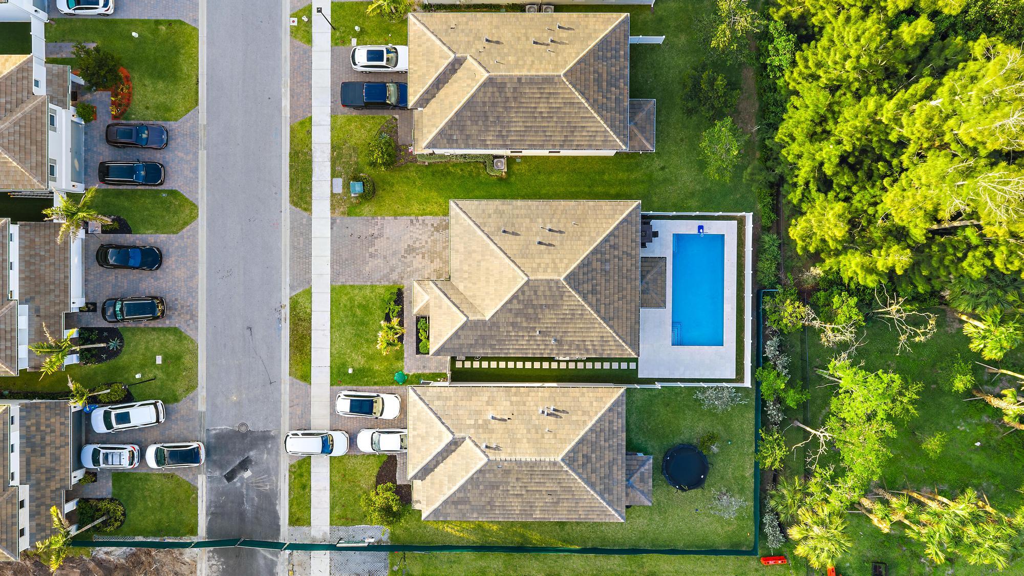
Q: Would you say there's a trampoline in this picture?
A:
Yes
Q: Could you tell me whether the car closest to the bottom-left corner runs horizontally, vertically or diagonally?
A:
horizontally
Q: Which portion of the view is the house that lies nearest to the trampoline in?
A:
bottom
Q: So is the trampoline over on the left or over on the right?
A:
right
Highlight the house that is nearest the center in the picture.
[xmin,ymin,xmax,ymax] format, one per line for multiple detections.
[411,198,668,359]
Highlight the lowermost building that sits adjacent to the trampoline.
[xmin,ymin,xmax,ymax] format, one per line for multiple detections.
[406,384,654,523]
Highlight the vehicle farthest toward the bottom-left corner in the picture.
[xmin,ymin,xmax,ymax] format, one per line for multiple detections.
[82,442,143,472]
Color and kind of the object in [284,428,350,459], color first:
white car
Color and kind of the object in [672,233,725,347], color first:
blue swimming pool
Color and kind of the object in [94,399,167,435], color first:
white car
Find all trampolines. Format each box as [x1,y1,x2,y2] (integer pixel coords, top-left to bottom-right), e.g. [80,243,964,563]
[661,443,717,498]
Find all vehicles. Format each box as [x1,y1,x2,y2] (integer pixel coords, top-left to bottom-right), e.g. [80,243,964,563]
[147,440,207,471]
[57,0,118,17]
[340,78,408,111]
[357,427,406,457]
[82,442,143,472]
[98,158,168,188]
[96,242,166,272]
[102,294,169,325]
[350,42,406,74]
[335,390,402,422]
[105,120,172,150]
[94,399,167,435]
[284,428,350,459]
